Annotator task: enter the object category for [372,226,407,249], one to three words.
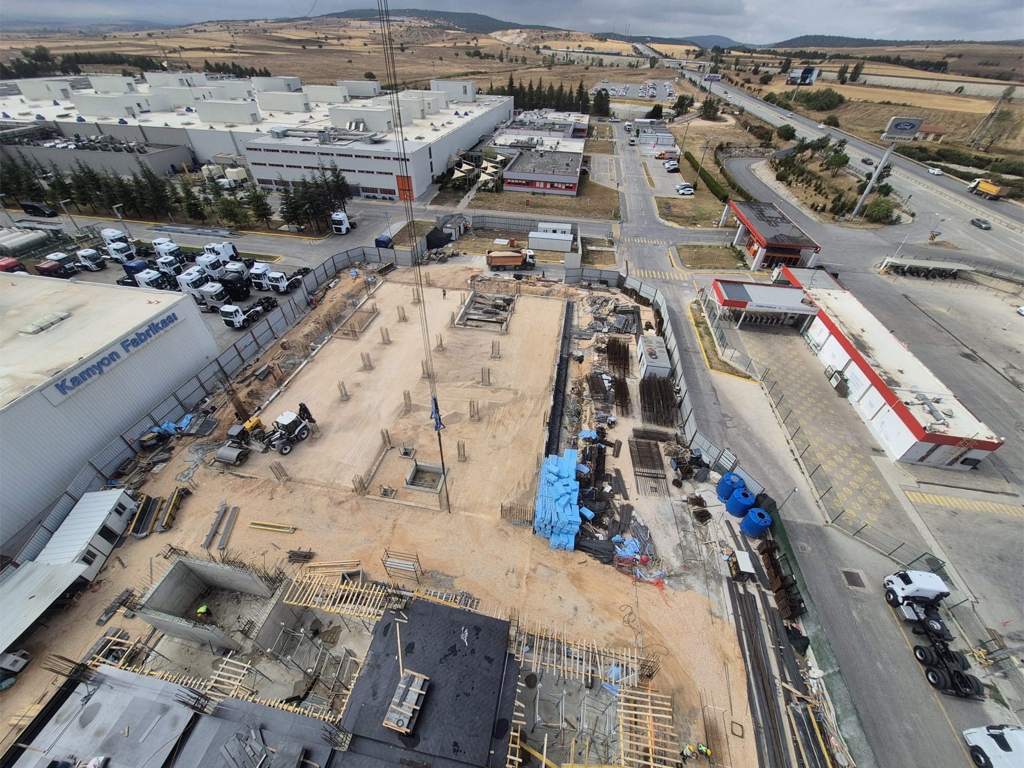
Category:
truck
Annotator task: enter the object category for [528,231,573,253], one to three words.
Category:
building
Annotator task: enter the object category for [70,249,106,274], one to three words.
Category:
truck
